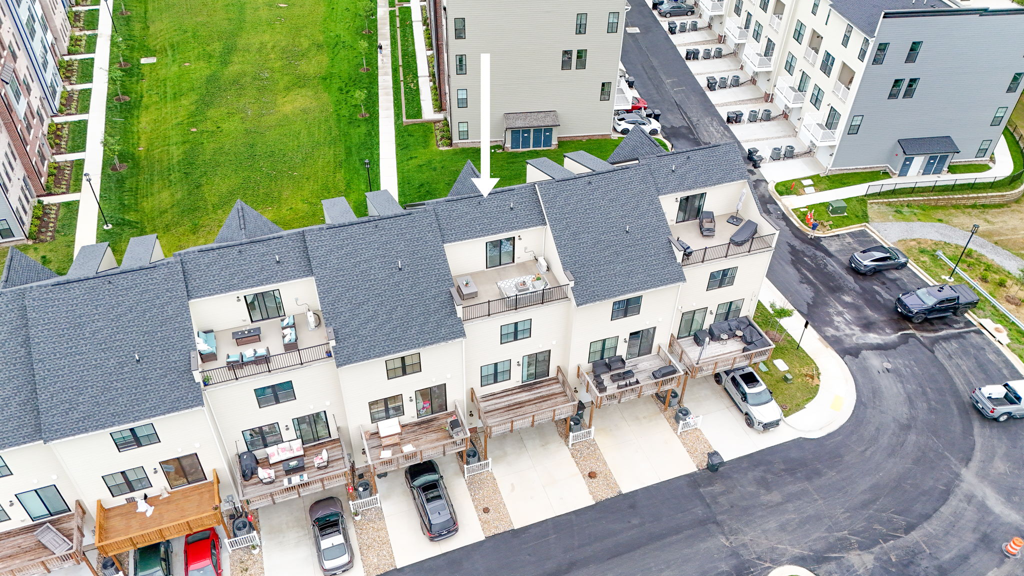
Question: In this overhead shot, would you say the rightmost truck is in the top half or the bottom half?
bottom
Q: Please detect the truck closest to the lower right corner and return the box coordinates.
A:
[968,370,1024,418]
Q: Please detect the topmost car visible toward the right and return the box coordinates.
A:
[660,2,696,16]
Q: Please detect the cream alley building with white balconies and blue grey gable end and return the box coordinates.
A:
[684,0,1024,183]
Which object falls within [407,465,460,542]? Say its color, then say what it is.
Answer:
gray car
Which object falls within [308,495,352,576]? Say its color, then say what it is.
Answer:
gray car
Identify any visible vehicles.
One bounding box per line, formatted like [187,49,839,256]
[407,465,460,542]
[308,495,352,576]
[852,243,914,274]
[618,115,666,135]
[895,282,980,320]
[713,366,785,433]
[181,529,226,576]
[968,370,1024,418]
[660,2,696,16]
[616,92,654,114]
[127,545,171,576]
